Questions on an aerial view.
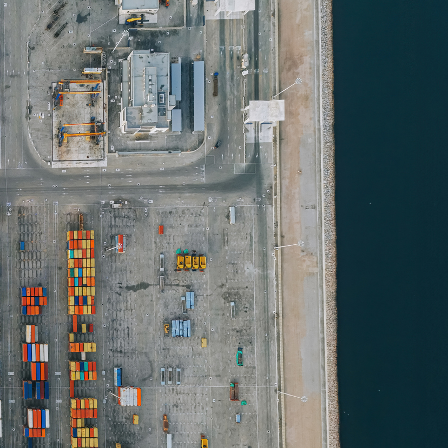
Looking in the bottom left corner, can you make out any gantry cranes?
No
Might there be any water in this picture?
Yes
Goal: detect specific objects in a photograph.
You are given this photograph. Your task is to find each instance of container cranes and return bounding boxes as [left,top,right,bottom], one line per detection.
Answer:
[61,119,107,146]
[56,78,103,104]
